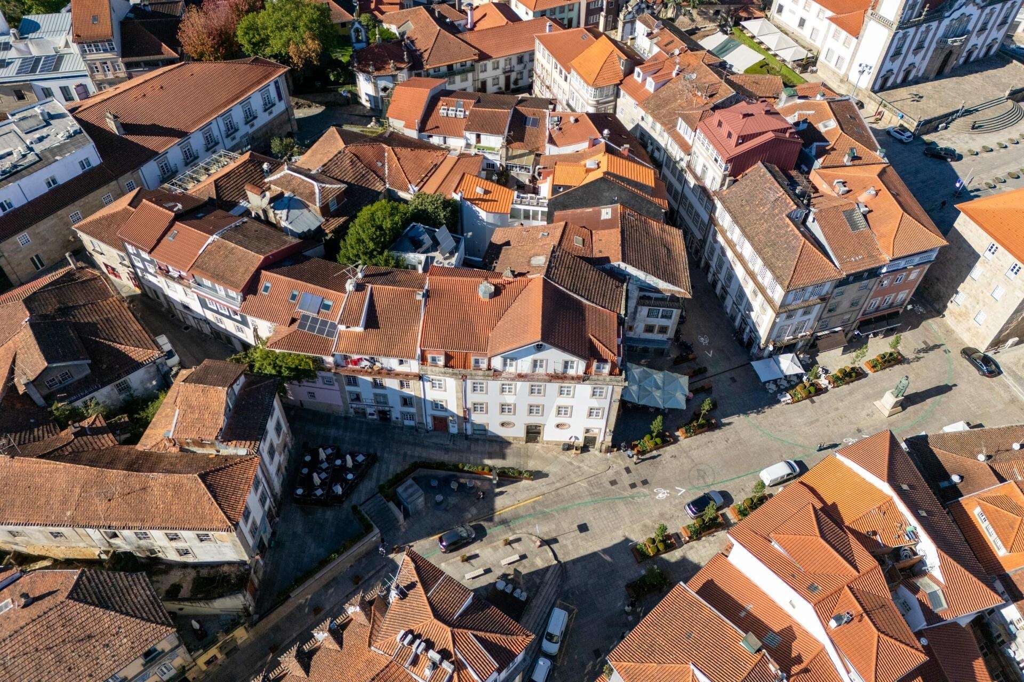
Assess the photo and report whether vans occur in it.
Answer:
Yes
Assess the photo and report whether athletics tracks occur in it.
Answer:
No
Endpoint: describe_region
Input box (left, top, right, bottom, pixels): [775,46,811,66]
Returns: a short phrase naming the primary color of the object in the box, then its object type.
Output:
white umbrella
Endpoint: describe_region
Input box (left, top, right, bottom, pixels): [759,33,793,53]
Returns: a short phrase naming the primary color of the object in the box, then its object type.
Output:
white umbrella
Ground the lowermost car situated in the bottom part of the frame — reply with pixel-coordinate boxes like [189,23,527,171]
[525,656,555,682]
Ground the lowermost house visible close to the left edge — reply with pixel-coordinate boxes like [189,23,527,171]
[0,567,208,682]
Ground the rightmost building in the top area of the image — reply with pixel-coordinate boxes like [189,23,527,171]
[923,187,1024,339]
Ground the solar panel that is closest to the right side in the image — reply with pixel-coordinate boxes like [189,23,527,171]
[520,115,543,128]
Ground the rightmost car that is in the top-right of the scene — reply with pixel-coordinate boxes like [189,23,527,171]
[928,146,958,160]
